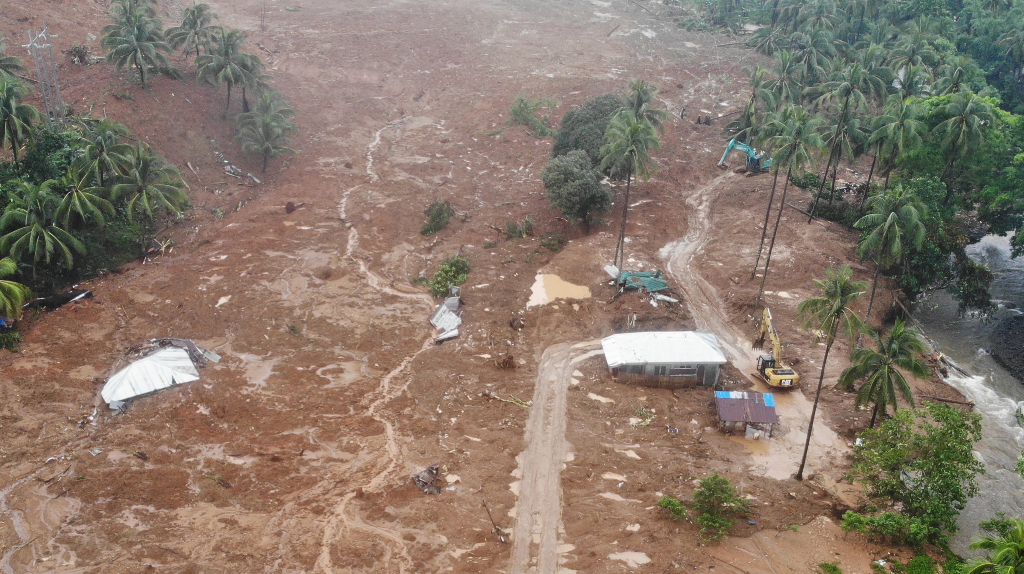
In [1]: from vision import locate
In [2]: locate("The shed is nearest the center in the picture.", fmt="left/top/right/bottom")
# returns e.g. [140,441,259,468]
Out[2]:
[430,286,465,342]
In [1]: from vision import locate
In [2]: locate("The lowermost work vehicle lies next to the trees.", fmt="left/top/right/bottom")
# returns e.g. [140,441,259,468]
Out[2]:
[744,291,802,388]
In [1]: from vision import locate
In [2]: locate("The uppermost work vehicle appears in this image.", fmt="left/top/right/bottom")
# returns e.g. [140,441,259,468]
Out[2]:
[713,145,769,176]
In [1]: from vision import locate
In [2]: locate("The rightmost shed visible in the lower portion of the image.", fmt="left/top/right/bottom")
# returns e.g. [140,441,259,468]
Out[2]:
[714,392,777,439]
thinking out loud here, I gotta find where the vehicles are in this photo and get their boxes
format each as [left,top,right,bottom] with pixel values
[744,291,802,388]
[713,145,769,176]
